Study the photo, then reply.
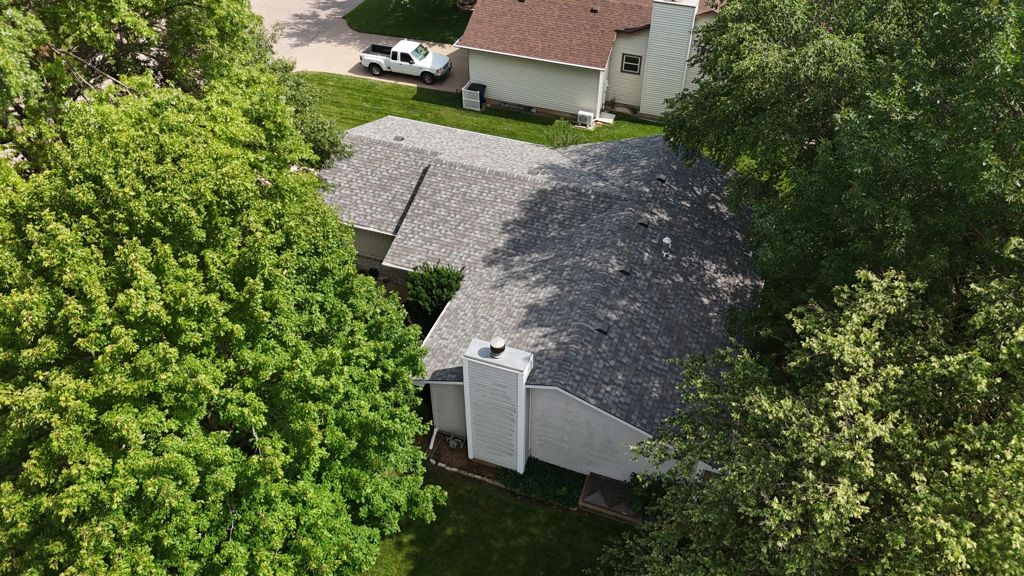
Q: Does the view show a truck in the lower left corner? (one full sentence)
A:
No, no truck appears in the lower left corner.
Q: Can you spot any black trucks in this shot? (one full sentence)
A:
No, this view has no black truck in it.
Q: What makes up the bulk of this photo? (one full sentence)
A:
The scene is dominated by trees.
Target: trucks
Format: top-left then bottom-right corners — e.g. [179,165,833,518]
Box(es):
[358,39,455,84]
